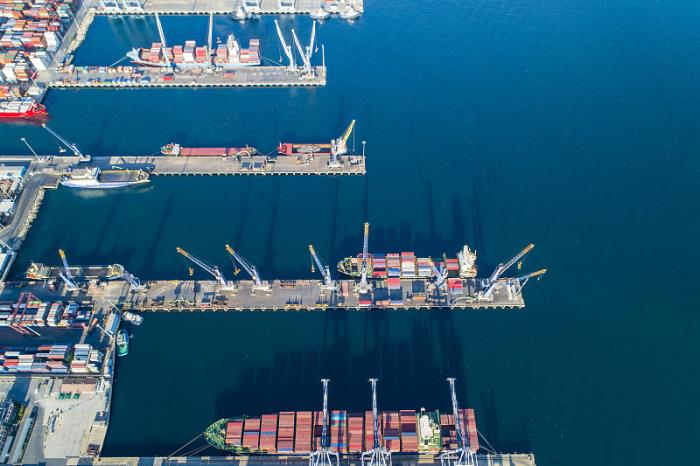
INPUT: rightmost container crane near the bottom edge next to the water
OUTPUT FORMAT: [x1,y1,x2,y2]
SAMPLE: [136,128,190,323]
[438,379,485,466]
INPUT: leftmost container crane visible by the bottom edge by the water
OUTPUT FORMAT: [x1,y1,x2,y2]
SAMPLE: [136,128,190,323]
[304,379,344,466]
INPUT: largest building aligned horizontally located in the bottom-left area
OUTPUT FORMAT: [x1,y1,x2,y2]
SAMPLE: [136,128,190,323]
[53,374,100,392]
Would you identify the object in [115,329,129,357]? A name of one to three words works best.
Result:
boat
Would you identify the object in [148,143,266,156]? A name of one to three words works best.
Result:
ship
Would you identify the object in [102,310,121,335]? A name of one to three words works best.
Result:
building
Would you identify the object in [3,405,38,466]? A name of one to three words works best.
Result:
building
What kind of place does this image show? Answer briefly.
port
